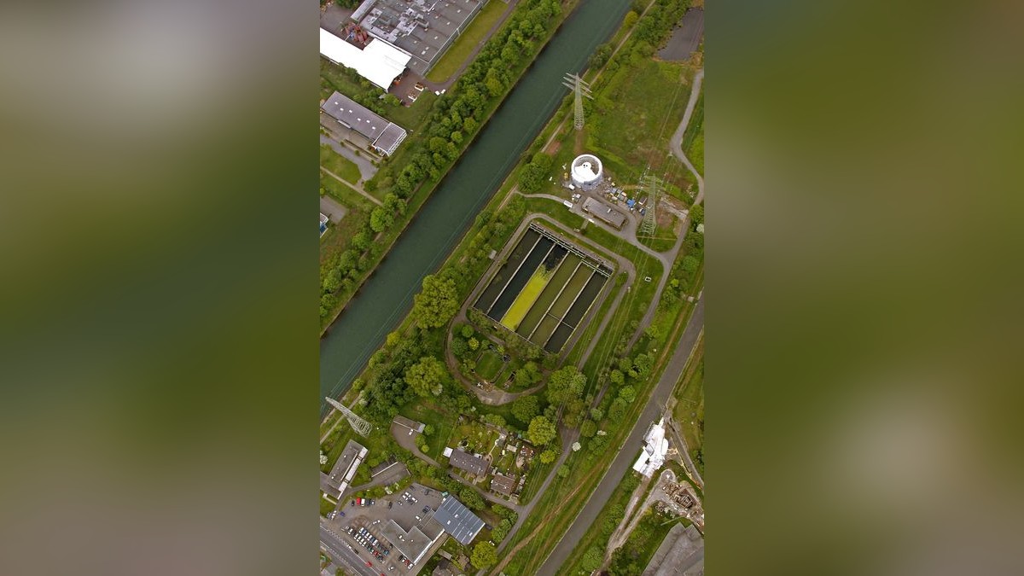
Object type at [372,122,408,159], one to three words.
building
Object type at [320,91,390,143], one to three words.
building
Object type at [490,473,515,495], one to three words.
house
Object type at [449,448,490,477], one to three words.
house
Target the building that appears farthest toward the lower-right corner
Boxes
[642,523,730,576]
